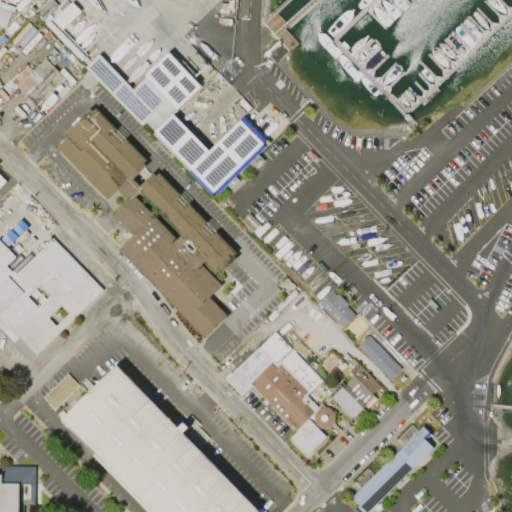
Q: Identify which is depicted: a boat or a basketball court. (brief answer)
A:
boat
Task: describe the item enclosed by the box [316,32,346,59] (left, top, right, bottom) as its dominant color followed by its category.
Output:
white boat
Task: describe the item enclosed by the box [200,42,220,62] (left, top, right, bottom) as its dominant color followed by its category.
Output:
white boat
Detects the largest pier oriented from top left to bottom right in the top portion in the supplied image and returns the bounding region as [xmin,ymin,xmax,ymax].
[332,36,412,118]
